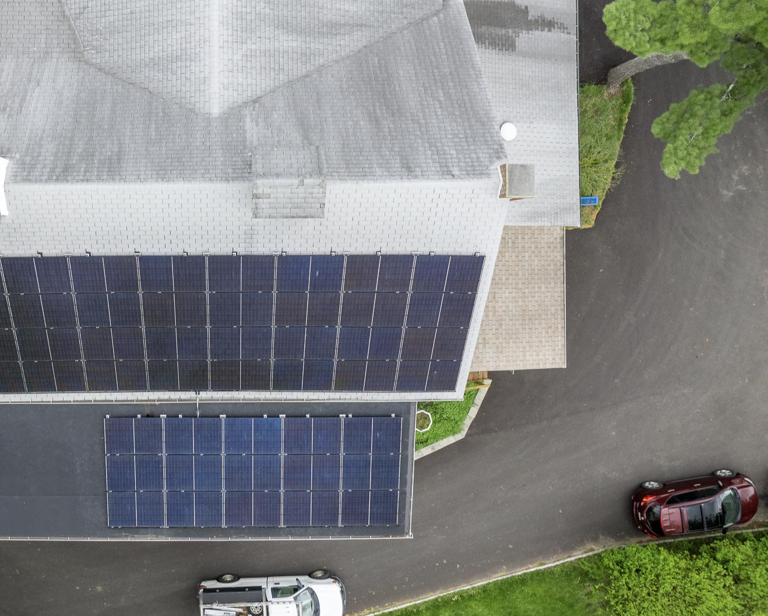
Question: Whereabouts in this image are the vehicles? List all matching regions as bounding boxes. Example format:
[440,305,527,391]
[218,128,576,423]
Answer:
[199,569,348,616]
[628,469,760,540]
